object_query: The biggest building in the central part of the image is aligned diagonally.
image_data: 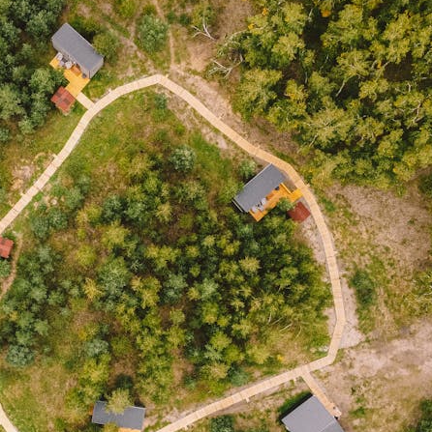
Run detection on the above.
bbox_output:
[231,163,286,214]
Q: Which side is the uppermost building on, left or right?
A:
left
